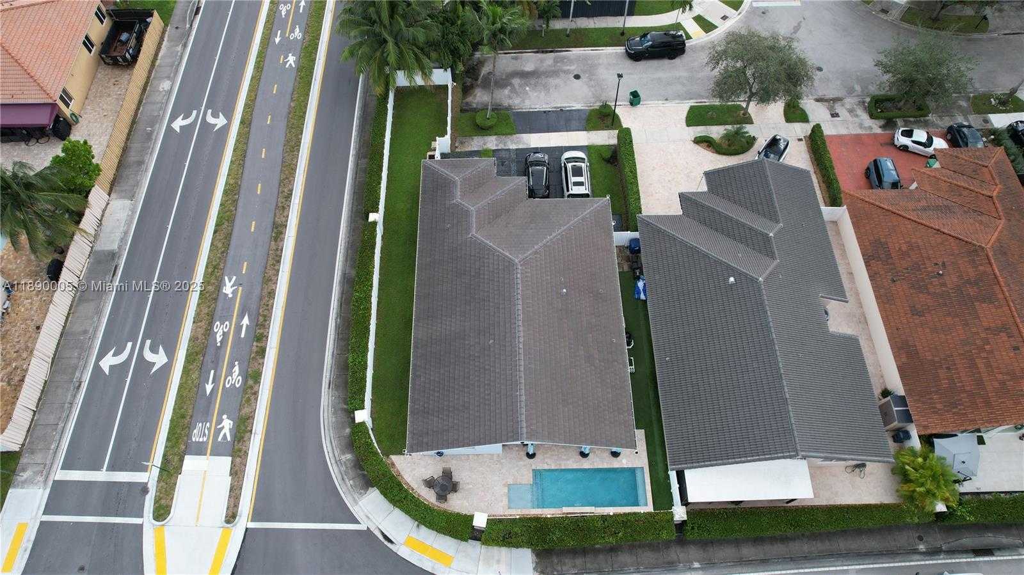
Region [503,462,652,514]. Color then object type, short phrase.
blue swimming pool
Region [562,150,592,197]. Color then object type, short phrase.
white car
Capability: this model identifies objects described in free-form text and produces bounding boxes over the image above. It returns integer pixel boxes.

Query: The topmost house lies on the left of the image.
[0,0,113,134]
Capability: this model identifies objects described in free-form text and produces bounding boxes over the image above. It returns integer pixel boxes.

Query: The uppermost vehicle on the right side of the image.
[625,30,686,62]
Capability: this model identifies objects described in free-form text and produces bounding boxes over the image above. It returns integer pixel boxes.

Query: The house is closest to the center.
[404,157,640,458]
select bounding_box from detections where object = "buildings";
[404,157,640,458]
[841,145,1024,439]
[0,0,113,134]
[636,160,896,470]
